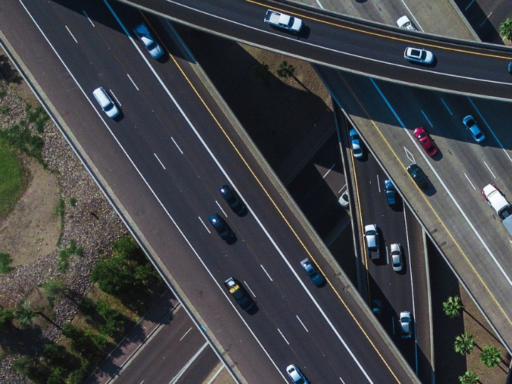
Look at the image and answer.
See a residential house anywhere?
No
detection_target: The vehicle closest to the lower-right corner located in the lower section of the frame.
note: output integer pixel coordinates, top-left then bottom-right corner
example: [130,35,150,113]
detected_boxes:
[398,309,412,339]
